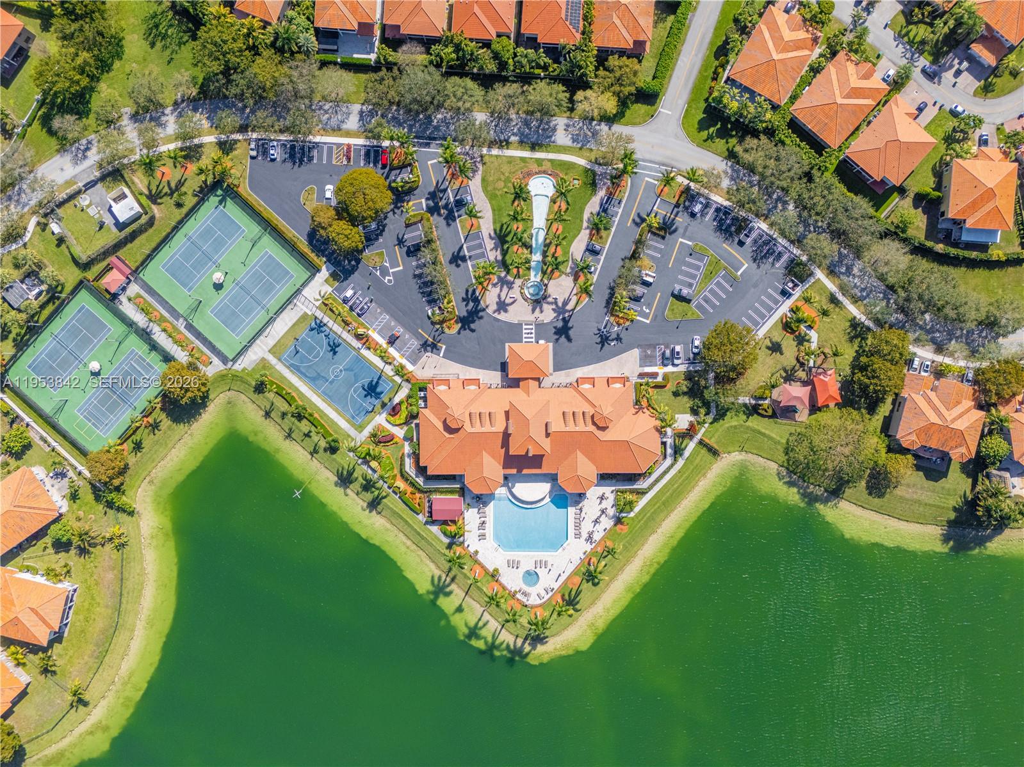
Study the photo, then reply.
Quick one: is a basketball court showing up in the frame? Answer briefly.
Yes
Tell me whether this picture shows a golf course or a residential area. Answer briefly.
residential area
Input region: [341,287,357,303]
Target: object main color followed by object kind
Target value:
white car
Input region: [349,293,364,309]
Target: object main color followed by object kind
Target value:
gray car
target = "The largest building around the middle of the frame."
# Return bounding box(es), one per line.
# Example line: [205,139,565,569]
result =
[419,343,660,494]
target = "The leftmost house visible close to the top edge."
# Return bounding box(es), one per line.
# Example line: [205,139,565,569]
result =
[0,7,41,77]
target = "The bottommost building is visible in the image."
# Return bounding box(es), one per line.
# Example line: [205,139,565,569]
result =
[0,657,31,712]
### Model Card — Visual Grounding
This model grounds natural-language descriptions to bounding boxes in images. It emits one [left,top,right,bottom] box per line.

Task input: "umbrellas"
[213,272,227,284]
[90,360,105,372]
